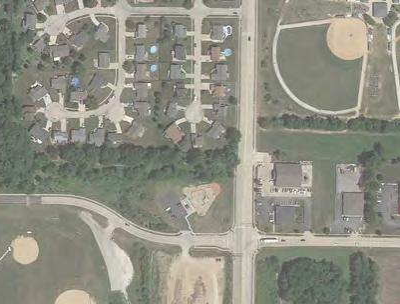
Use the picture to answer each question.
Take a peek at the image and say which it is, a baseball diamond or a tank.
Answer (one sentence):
The image shows a baseball diamond.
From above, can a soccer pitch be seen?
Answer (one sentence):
No, I find no soccer pitch anywhere in the image.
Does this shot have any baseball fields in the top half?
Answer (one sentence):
Yes, a baseball field shows up in the top half.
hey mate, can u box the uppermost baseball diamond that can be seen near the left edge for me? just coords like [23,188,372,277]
[7,231,39,264]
